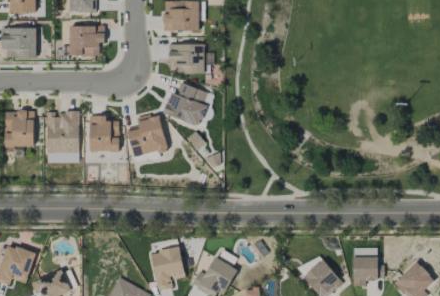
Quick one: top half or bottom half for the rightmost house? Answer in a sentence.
Seen from above, the rightmost house lies in the bottom half of the view.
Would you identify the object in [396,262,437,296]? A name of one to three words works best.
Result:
house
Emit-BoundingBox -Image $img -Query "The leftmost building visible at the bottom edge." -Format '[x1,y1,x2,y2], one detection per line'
[0,246,37,284]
